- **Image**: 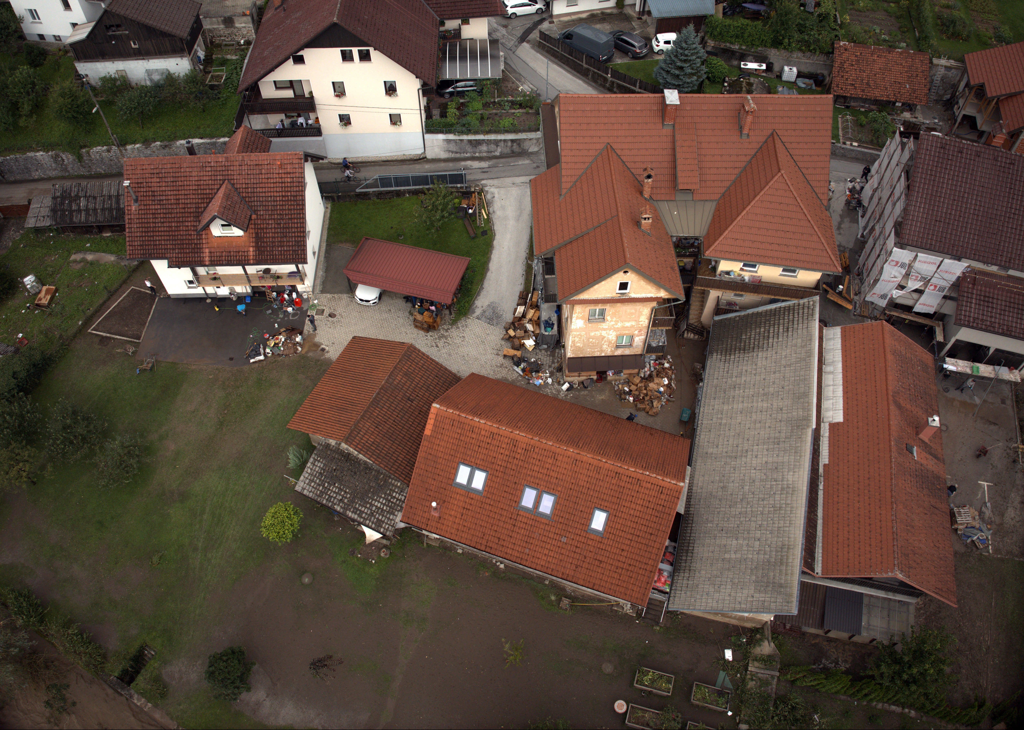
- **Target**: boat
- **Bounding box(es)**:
[742,2,769,18]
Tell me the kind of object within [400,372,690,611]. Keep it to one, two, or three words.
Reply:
barn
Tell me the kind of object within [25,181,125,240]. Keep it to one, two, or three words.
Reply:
shed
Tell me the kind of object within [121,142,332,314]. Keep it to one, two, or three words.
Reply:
house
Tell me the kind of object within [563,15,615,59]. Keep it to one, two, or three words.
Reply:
van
